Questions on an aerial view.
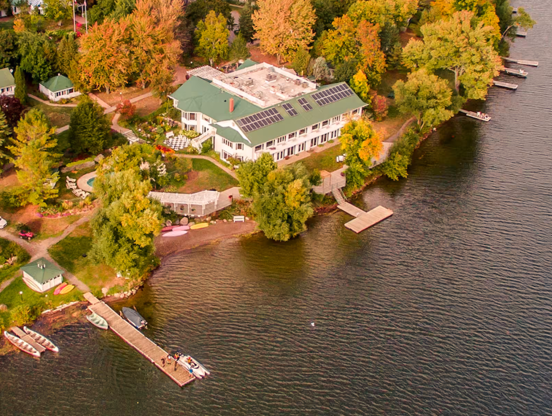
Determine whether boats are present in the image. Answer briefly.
Yes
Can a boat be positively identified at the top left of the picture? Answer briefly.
No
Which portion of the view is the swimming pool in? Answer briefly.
left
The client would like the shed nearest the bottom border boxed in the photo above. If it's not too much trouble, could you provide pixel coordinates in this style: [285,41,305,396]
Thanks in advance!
[18,254,64,292]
